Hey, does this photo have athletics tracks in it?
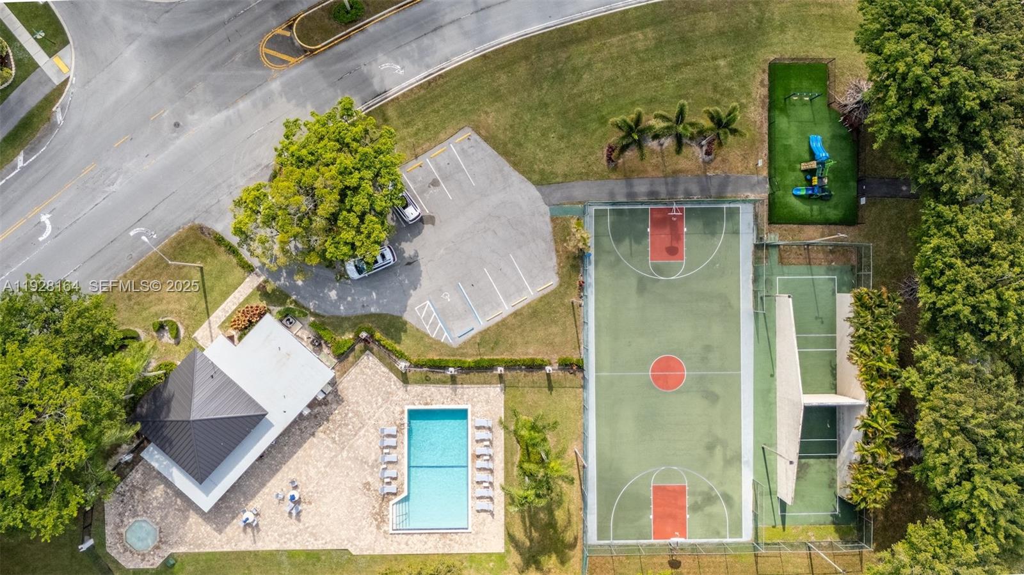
No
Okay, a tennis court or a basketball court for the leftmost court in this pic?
basketball court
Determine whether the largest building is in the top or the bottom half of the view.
bottom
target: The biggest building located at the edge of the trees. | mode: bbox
[130,313,335,511]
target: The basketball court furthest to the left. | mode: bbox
[587,202,754,545]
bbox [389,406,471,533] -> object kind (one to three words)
swimming pool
